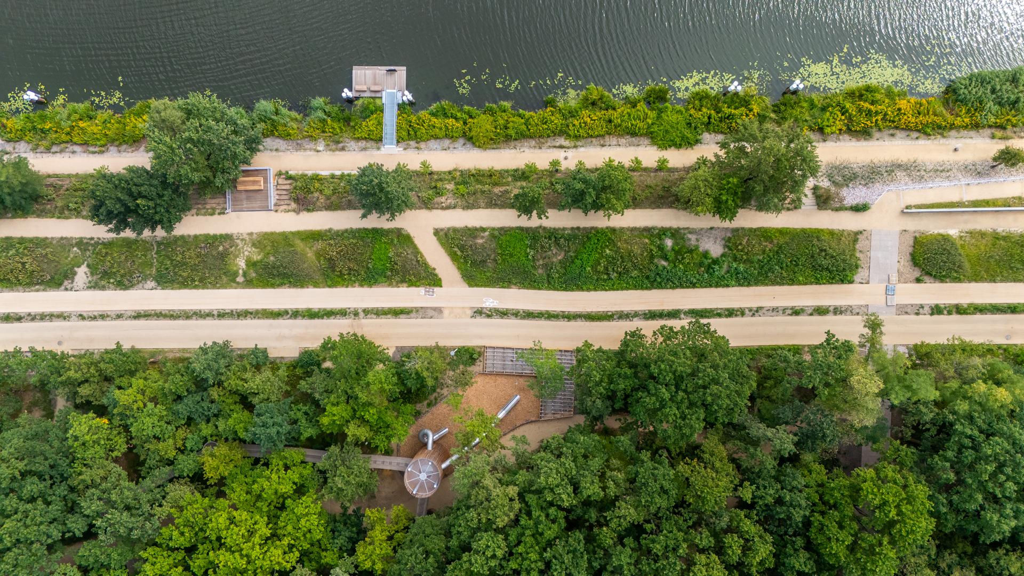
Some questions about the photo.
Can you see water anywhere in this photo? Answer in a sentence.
Yes, there is water in the image.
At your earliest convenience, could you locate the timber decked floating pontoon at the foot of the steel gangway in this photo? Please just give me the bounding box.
[353,66,406,103]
